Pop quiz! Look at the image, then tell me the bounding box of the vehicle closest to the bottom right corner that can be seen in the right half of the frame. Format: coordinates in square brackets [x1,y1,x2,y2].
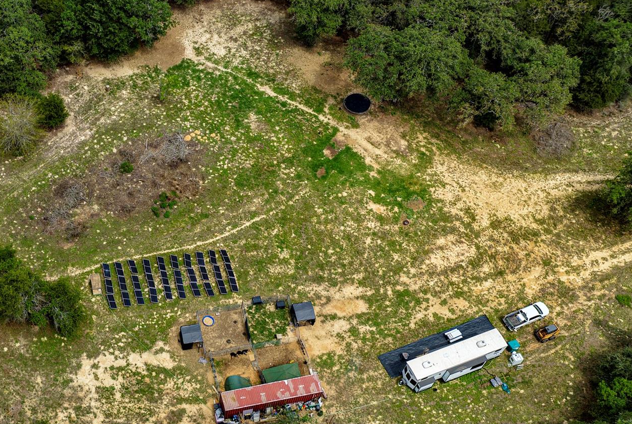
[528,321,563,345]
